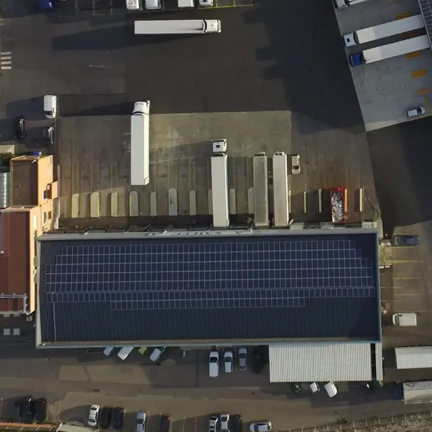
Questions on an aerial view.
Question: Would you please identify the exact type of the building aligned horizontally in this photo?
warehouse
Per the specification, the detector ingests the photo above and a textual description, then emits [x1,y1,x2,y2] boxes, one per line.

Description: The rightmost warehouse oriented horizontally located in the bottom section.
[36,212,381,348]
